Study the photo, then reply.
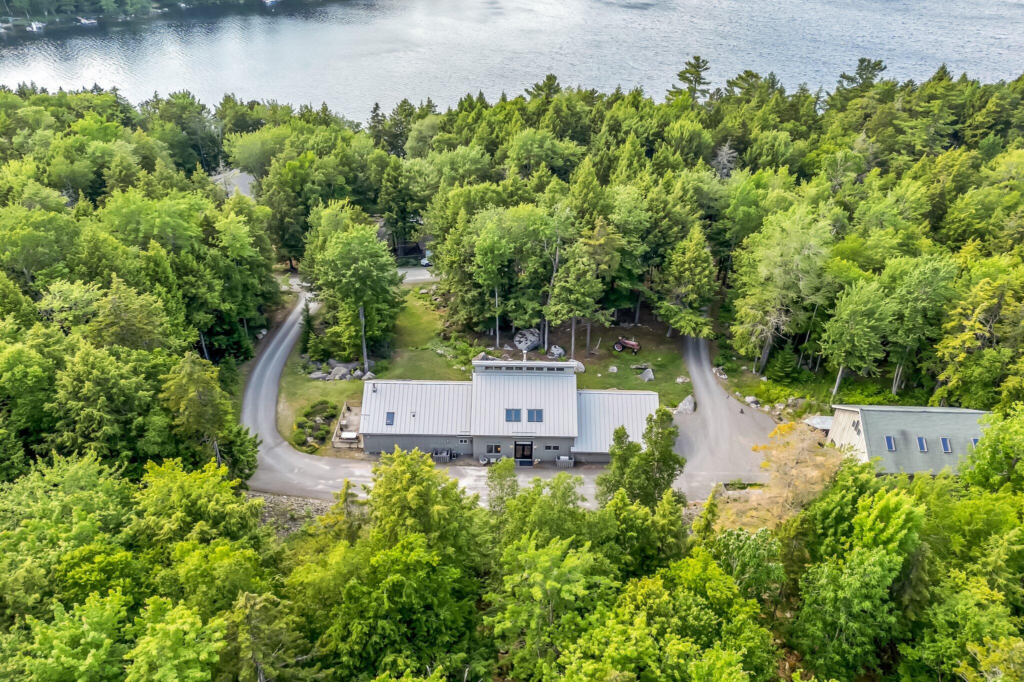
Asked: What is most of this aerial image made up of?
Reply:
trees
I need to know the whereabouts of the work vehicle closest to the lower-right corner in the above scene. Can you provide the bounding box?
[613,336,642,356]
